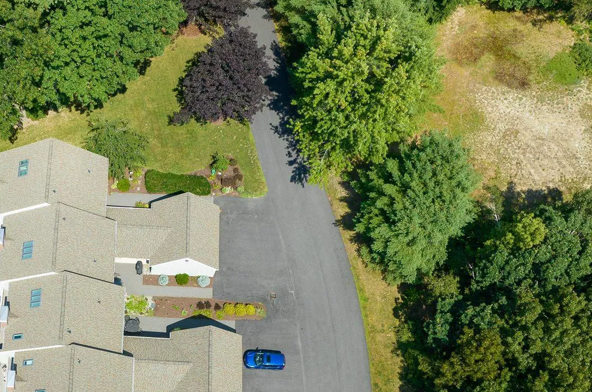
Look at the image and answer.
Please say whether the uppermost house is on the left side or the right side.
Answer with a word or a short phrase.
left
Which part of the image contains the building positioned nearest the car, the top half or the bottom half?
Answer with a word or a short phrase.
bottom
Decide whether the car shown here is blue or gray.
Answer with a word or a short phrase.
blue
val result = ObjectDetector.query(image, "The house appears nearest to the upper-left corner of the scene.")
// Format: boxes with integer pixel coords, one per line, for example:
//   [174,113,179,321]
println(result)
[0,138,110,229]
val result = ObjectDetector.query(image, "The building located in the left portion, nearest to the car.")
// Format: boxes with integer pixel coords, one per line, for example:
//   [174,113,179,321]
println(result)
[125,326,244,392]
